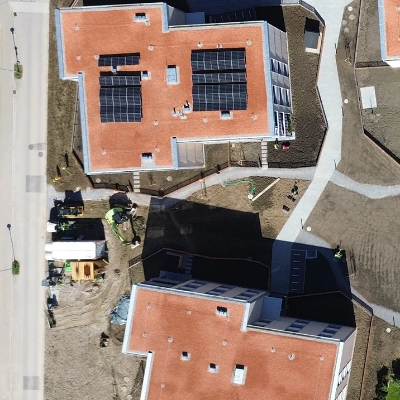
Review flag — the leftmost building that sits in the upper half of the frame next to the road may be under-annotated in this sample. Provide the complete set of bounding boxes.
[55,2,296,175]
